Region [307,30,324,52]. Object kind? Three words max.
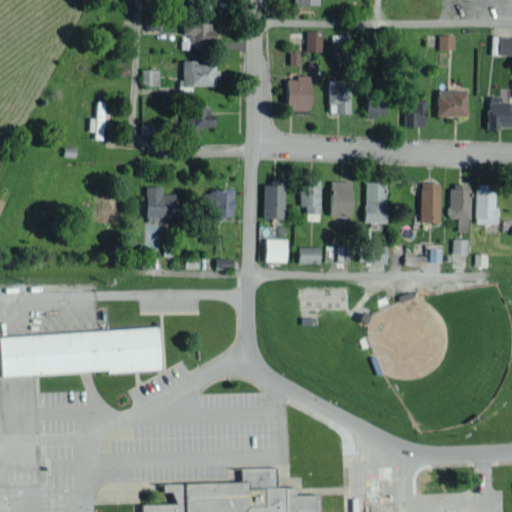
building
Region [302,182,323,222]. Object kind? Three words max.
house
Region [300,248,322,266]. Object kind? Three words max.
building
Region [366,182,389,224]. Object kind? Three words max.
house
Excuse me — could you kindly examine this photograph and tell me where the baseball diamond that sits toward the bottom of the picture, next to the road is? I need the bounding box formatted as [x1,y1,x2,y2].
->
[368,283,512,434]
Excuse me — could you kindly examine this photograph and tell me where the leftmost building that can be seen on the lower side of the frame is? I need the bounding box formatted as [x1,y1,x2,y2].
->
[0,327,162,378]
